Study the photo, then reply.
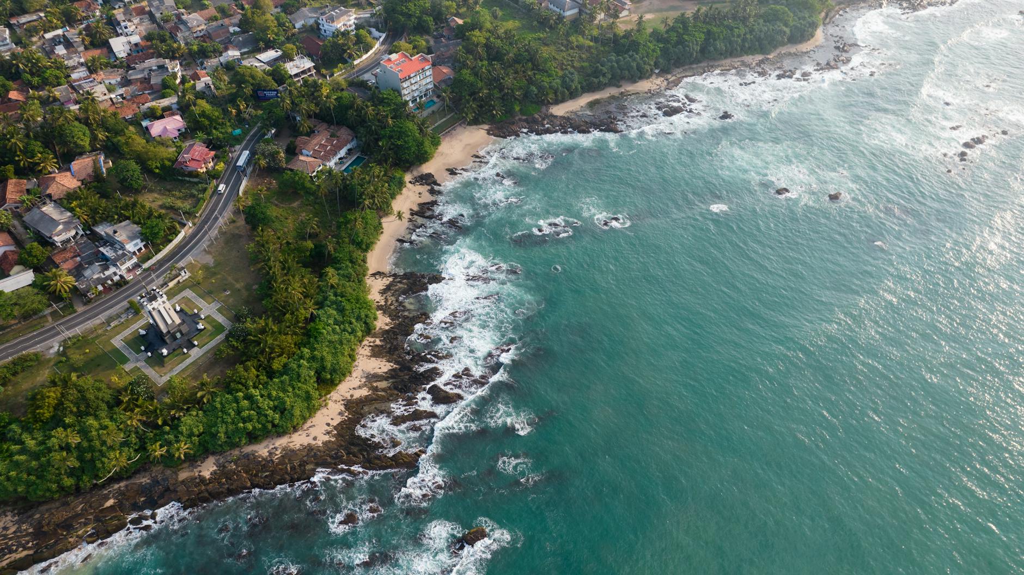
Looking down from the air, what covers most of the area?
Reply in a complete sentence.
Most of the picture is covered by water.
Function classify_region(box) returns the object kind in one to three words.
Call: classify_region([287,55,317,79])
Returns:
building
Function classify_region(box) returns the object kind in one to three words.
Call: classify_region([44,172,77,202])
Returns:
house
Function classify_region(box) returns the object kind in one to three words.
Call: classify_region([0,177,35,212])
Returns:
house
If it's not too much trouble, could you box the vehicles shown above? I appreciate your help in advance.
[366,78,376,84]
[233,148,250,172]
[217,185,225,194]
